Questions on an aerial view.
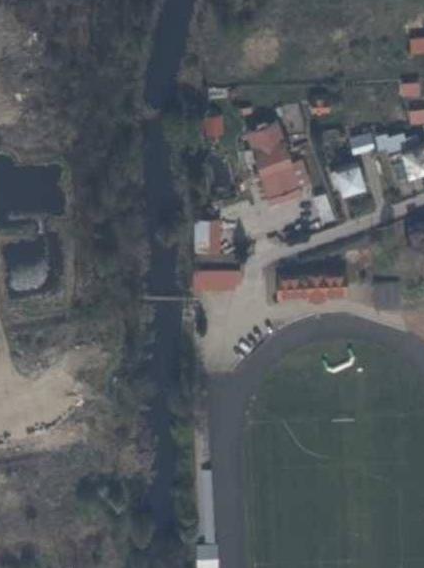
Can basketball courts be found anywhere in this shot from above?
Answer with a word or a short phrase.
No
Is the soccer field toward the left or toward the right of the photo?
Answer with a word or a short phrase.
right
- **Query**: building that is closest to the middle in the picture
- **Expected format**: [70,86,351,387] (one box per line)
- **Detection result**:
[192,270,243,291]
